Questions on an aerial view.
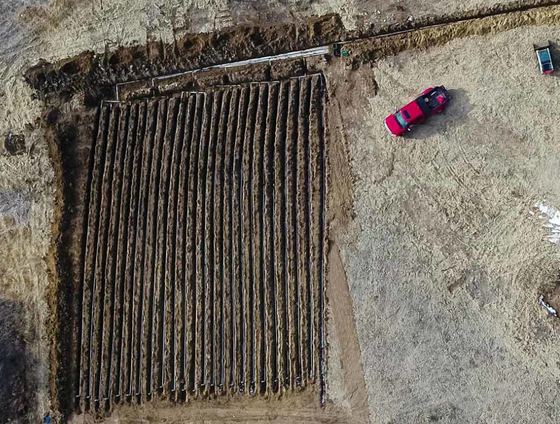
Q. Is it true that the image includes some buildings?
No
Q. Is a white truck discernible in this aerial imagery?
No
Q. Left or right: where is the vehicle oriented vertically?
right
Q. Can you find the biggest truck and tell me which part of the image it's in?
top right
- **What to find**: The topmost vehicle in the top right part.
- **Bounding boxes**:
[535,41,556,77]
